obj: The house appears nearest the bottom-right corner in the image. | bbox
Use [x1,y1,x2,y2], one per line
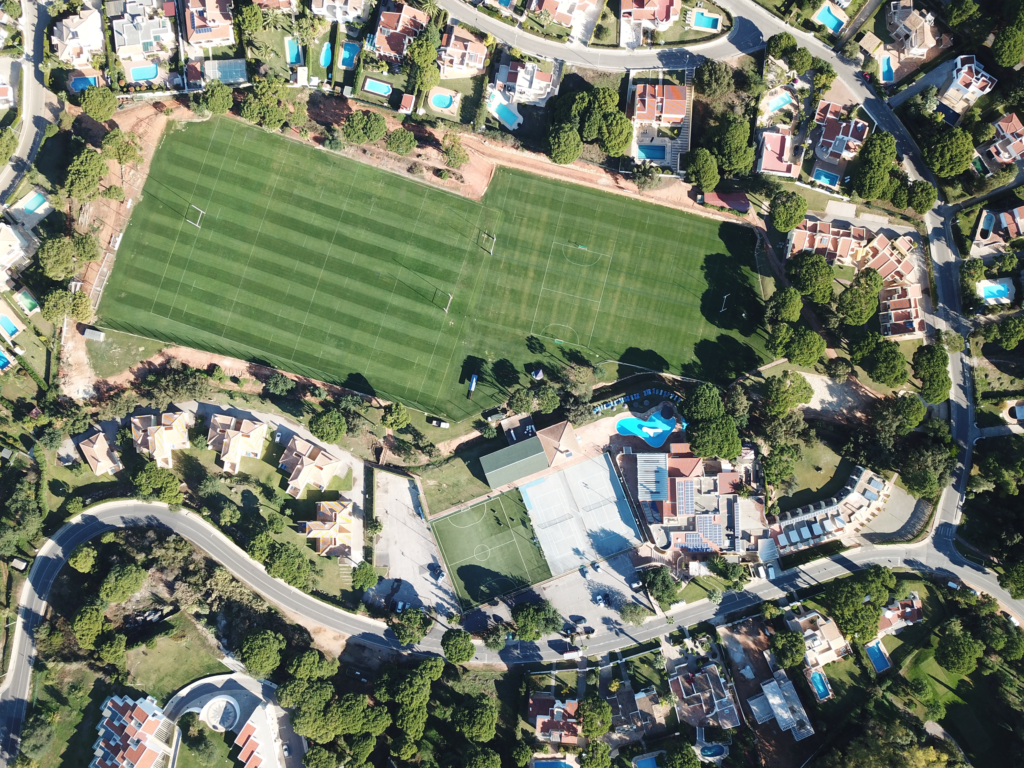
[875,591,924,635]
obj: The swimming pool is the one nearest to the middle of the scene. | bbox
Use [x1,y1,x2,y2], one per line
[615,408,677,449]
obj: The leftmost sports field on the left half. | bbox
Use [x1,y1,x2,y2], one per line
[95,116,504,422]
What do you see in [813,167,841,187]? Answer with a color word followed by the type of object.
blue swimming pool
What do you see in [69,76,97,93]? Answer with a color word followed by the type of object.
blue swimming pool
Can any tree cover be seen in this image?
Yes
